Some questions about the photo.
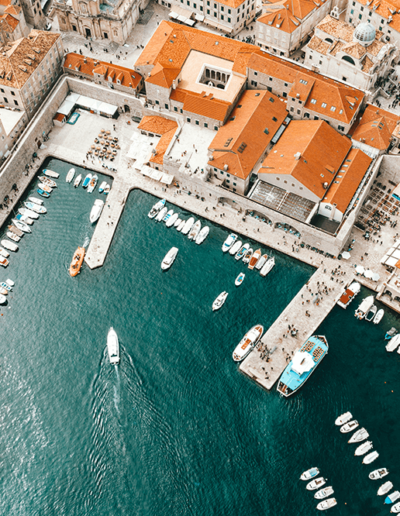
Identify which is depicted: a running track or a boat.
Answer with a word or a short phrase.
boat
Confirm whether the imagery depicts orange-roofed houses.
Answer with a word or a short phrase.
Yes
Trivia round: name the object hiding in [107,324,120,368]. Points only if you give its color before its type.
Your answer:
white boat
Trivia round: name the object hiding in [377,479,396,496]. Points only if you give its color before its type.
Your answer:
white boat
